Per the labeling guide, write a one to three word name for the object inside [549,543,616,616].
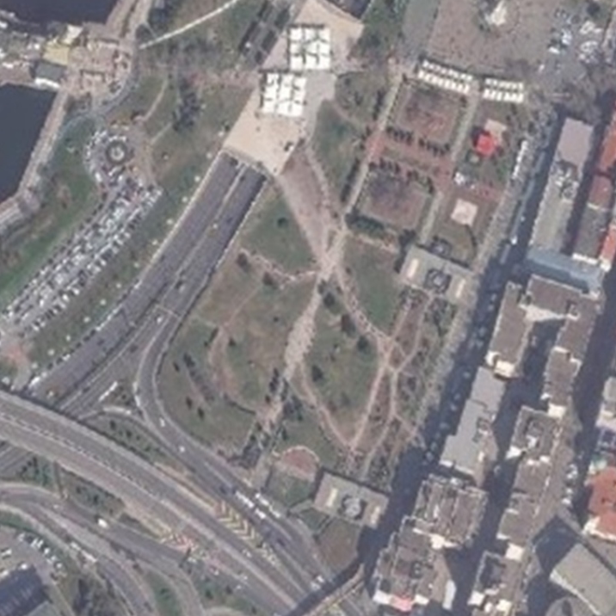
building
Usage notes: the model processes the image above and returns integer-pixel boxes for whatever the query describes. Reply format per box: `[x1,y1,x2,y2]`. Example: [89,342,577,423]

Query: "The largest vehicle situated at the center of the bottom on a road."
[233,489,256,507]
